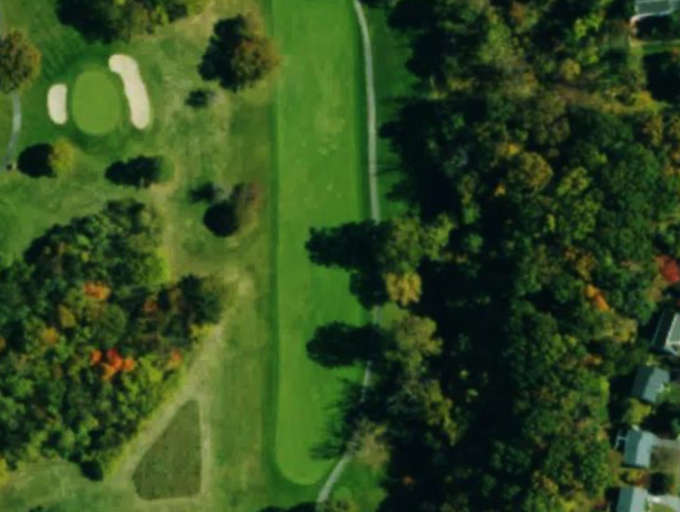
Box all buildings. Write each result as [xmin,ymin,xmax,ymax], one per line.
[615,429,657,469]
[635,0,680,17]
[617,485,651,512]
[631,363,672,404]
[652,310,680,352]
